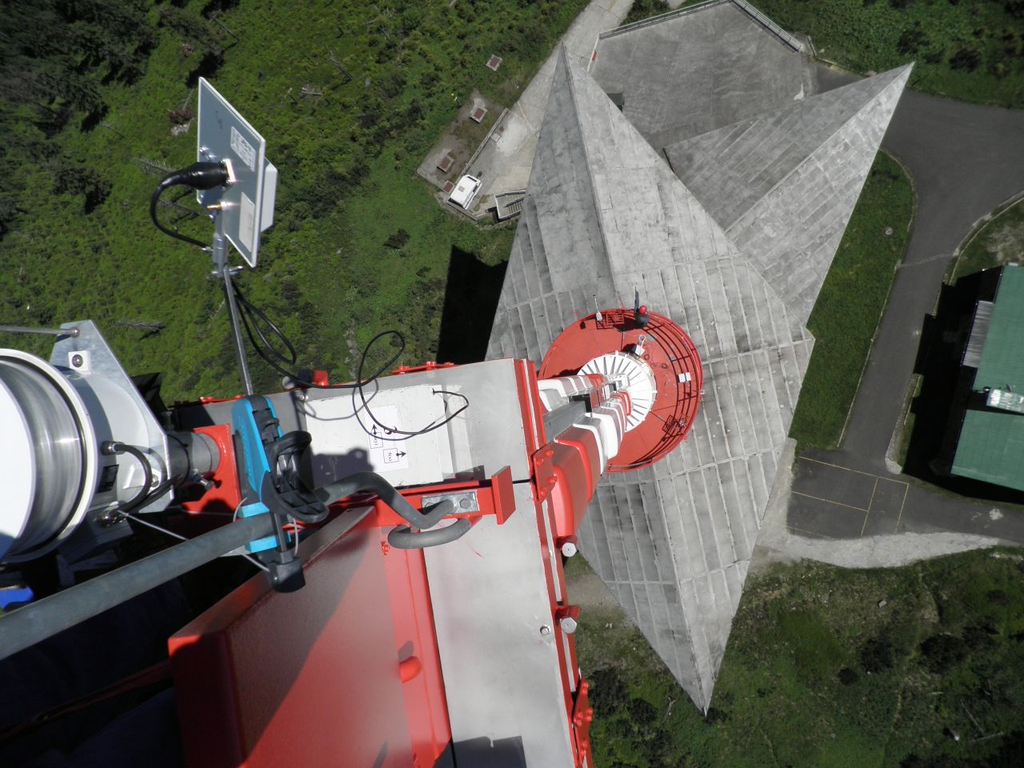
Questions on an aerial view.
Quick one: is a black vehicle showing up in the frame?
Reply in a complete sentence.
No, I can see no black vehicle in this picture.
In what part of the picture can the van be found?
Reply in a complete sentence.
The van sits in the top section of the image.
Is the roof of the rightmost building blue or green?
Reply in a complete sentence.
The roof of the rightmost building looks green in the image.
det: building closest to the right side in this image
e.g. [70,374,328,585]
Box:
[930,264,1024,493]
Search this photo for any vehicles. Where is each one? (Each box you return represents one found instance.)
[446,171,479,211]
